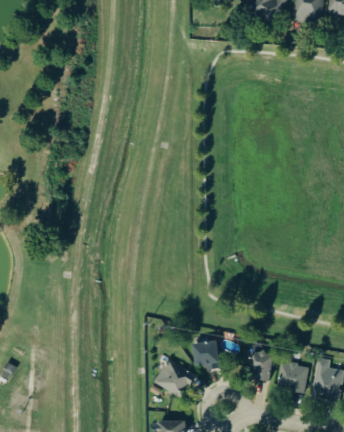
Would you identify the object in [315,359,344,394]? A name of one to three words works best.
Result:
house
